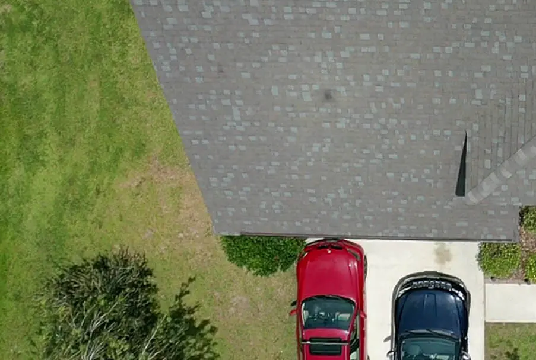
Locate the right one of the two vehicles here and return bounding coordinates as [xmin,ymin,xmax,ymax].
[386,274,473,360]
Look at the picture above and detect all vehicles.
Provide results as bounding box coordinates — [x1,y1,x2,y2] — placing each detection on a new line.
[386,274,473,360]
[284,240,367,360]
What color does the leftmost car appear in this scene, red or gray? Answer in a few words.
red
